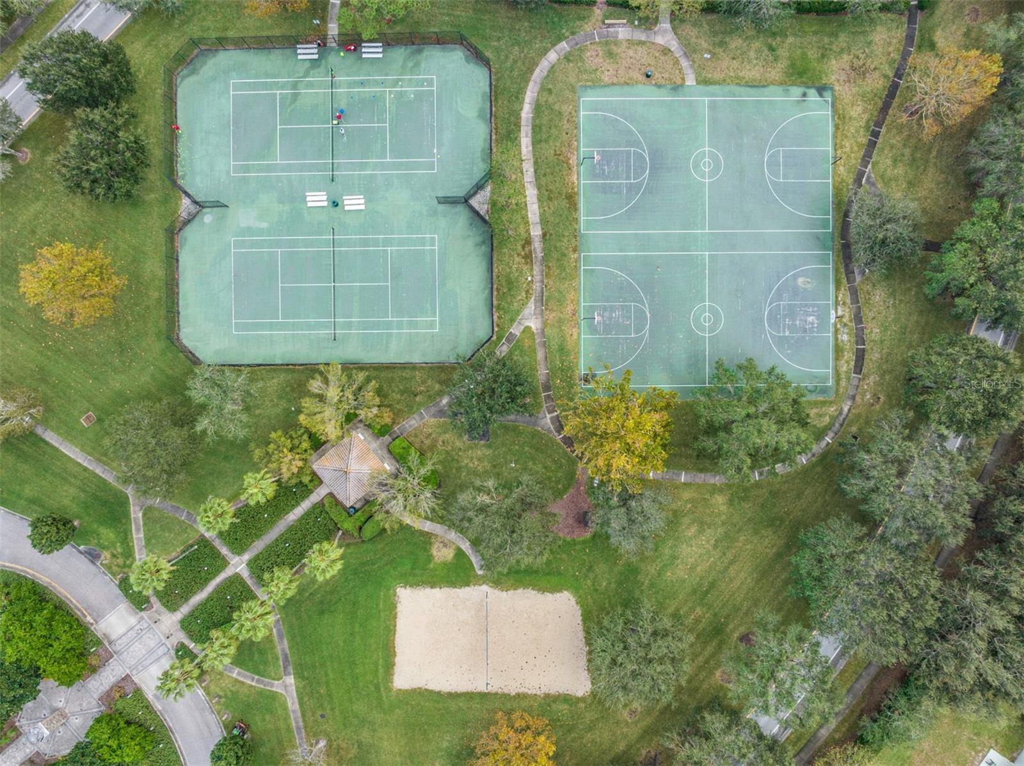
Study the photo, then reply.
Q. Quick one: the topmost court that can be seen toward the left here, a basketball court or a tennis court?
tennis court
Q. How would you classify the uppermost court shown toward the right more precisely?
basketball court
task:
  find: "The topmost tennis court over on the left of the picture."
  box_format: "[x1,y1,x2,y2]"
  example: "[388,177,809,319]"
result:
[177,43,490,205]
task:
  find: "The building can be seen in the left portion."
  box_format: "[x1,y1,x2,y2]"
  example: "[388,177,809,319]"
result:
[313,431,389,508]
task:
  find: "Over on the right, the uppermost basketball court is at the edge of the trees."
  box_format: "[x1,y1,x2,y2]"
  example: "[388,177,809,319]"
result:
[579,86,834,242]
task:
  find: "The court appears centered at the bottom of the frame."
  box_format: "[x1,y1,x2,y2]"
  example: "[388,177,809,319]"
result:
[394,585,591,696]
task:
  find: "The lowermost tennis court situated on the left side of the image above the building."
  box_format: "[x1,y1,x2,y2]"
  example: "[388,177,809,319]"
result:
[178,200,493,364]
